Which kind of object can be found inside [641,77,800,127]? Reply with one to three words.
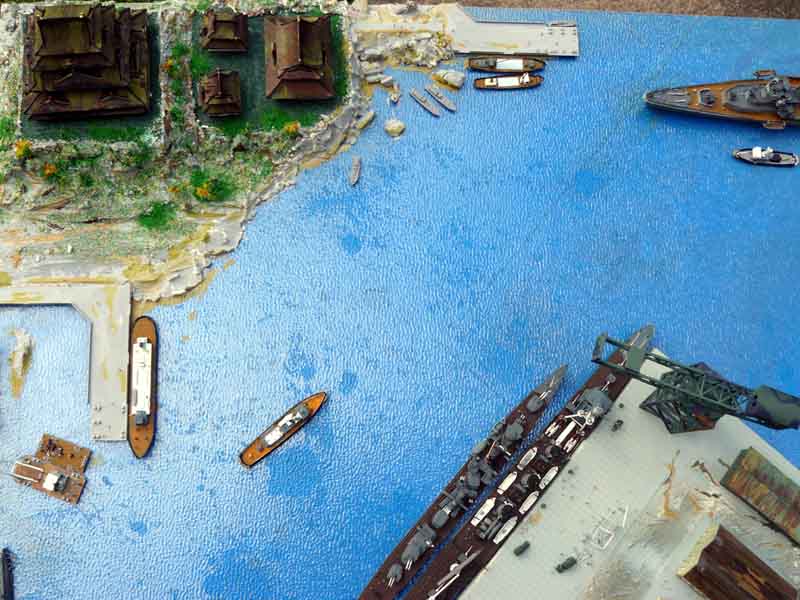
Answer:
ship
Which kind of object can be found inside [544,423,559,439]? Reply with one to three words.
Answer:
boat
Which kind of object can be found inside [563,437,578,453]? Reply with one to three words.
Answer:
boat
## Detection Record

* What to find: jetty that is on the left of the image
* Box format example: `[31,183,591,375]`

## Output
[0,282,134,441]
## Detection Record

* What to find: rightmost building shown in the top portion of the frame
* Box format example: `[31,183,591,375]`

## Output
[264,8,338,105]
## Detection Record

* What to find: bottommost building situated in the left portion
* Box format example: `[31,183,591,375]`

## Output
[195,62,243,119]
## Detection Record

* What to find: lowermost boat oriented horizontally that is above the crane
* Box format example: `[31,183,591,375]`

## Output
[730,148,799,167]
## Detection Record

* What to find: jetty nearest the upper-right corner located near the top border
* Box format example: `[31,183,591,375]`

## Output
[448,5,580,60]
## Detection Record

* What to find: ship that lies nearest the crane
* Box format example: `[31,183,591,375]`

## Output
[405,326,652,600]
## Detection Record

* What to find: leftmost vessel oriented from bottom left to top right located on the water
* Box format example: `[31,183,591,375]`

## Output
[240,393,327,468]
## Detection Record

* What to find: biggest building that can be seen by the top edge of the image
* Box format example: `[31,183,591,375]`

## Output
[22,5,148,116]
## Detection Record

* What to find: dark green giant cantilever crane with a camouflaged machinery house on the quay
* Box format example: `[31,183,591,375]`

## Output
[589,334,800,436]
